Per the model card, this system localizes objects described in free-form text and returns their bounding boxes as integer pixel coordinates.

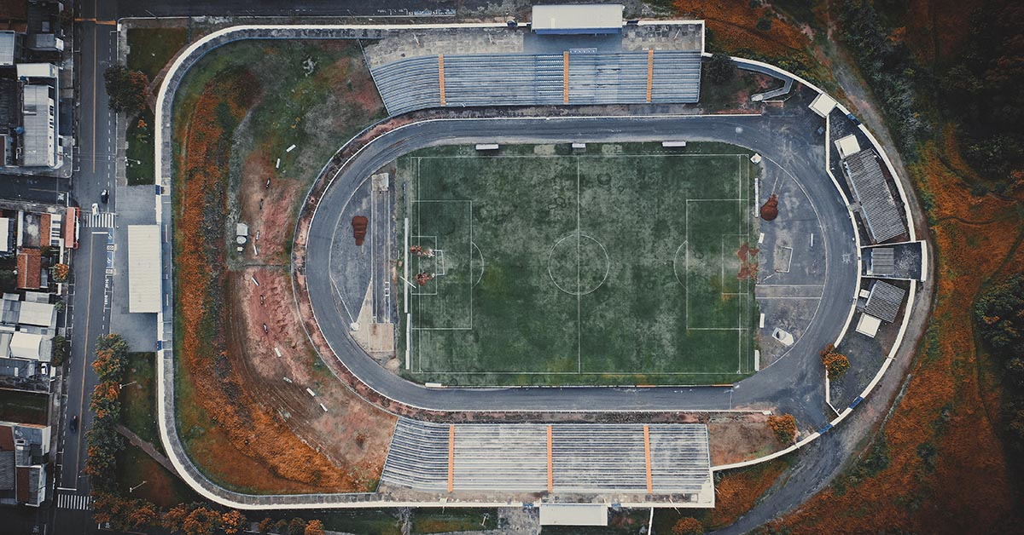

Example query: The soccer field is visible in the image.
[397,142,759,389]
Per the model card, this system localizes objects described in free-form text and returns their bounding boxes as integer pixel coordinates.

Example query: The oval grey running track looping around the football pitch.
[306,114,858,412]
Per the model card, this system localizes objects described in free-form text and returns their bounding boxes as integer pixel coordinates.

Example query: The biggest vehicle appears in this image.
[66,207,81,249]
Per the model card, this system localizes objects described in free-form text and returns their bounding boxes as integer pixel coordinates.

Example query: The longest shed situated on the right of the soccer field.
[843,149,905,243]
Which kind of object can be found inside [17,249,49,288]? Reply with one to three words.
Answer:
house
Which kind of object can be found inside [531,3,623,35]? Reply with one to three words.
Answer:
building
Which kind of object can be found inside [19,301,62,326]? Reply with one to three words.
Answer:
house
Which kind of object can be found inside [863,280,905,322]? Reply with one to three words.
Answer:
shed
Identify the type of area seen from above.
sports ground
